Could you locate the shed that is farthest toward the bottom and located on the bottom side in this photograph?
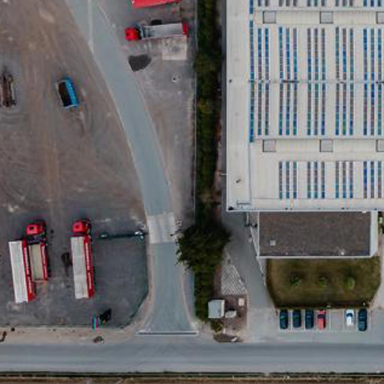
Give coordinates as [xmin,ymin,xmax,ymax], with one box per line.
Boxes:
[208,297,227,318]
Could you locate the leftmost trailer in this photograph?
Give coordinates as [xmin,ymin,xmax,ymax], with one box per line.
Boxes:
[9,237,39,303]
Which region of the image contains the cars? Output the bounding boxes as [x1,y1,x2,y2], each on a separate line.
[358,308,368,331]
[278,308,290,328]
[291,308,302,327]
[317,309,327,329]
[347,308,354,327]
[303,308,315,328]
